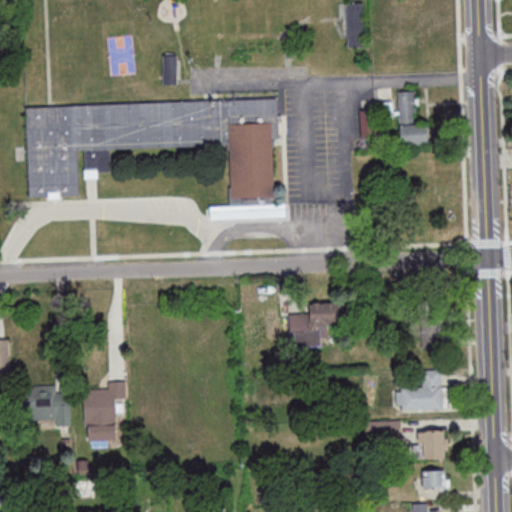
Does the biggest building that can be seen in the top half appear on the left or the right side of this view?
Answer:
left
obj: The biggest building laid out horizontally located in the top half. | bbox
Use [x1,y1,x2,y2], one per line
[26,98,286,221]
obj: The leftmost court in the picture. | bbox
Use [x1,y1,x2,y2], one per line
[107,36,136,78]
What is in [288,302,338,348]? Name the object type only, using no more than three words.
house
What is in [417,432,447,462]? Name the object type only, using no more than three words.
house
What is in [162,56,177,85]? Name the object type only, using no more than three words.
building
